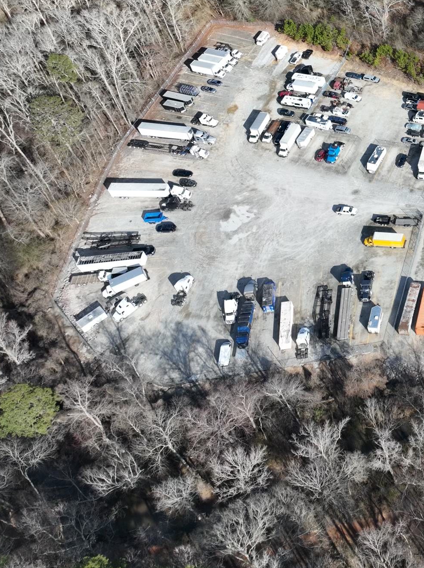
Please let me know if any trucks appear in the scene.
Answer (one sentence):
Yes, looking at the shot, I can spot a truck.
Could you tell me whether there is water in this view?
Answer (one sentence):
No, the scene doesn't show any water.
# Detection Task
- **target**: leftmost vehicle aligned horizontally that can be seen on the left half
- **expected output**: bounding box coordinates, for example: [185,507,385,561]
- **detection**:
[73,271,112,285]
